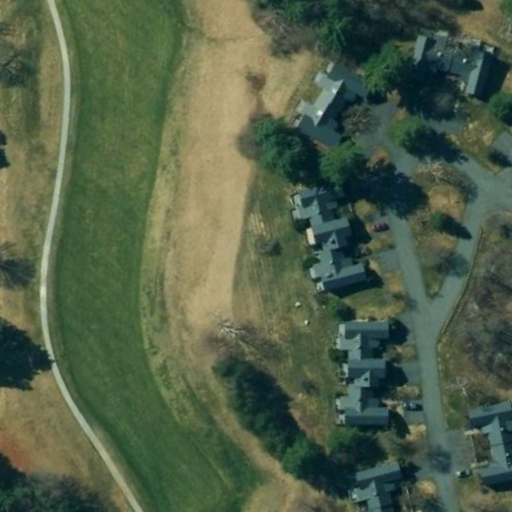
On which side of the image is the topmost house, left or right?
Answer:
right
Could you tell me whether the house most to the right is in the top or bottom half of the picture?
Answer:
bottom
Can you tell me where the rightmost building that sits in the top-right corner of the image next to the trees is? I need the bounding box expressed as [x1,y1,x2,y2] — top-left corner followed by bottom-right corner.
[413,29,495,95]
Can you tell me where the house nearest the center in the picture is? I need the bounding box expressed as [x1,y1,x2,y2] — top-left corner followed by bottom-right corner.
[294,180,368,292]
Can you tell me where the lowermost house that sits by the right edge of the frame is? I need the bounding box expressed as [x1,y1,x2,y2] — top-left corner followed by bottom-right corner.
[469,401,512,488]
